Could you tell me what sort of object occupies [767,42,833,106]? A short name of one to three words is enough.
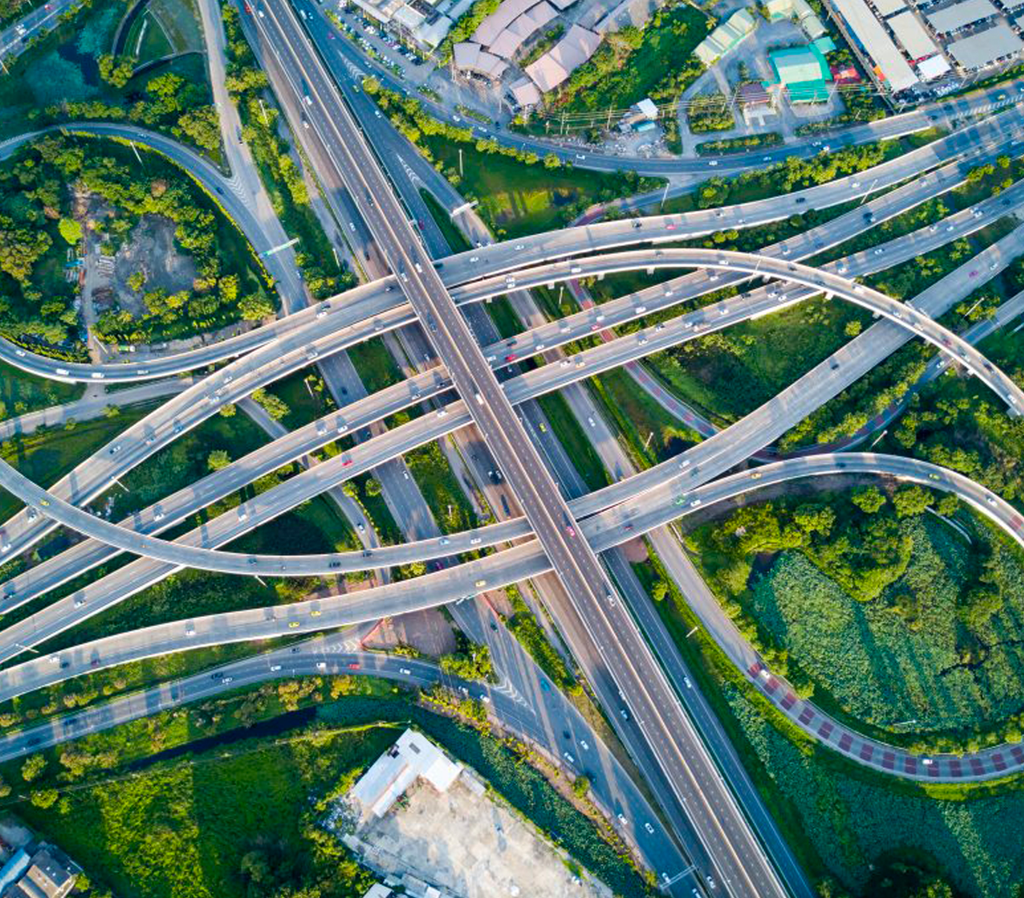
building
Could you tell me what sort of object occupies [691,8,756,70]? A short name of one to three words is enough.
building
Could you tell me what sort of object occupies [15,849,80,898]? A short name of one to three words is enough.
house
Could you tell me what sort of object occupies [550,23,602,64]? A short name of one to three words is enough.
shed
